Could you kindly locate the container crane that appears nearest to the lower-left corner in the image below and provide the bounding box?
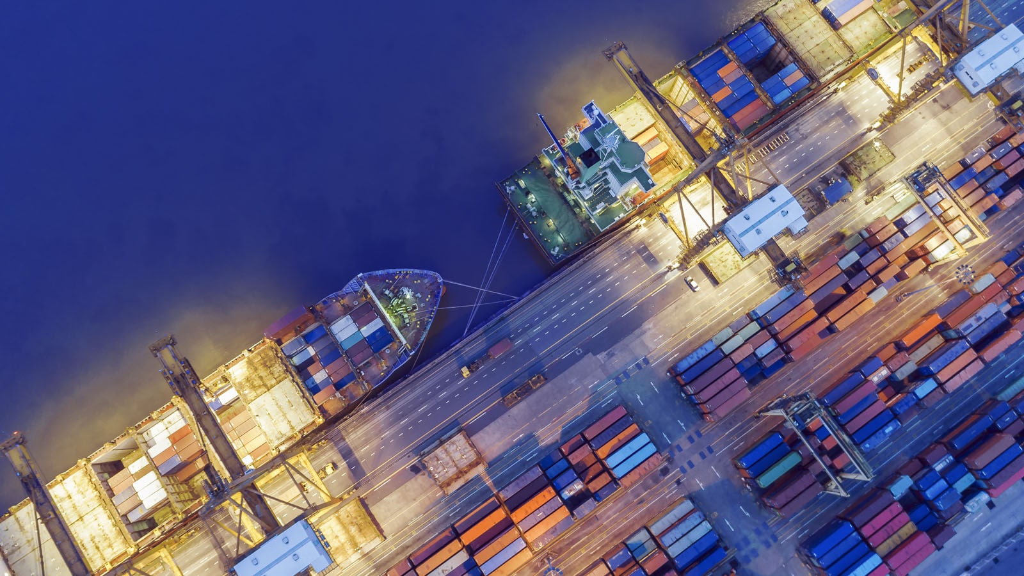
[0,430,236,576]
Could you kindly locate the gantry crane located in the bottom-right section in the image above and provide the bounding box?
[754,386,879,499]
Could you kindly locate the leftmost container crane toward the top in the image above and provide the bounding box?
[603,37,808,285]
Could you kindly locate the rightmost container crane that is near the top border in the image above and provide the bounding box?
[799,0,1024,158]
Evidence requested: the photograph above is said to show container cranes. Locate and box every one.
[754,386,879,499]
[603,37,808,285]
[867,159,998,274]
[145,331,375,576]
[799,0,1024,158]
[0,430,236,576]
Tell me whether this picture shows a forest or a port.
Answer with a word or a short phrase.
port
